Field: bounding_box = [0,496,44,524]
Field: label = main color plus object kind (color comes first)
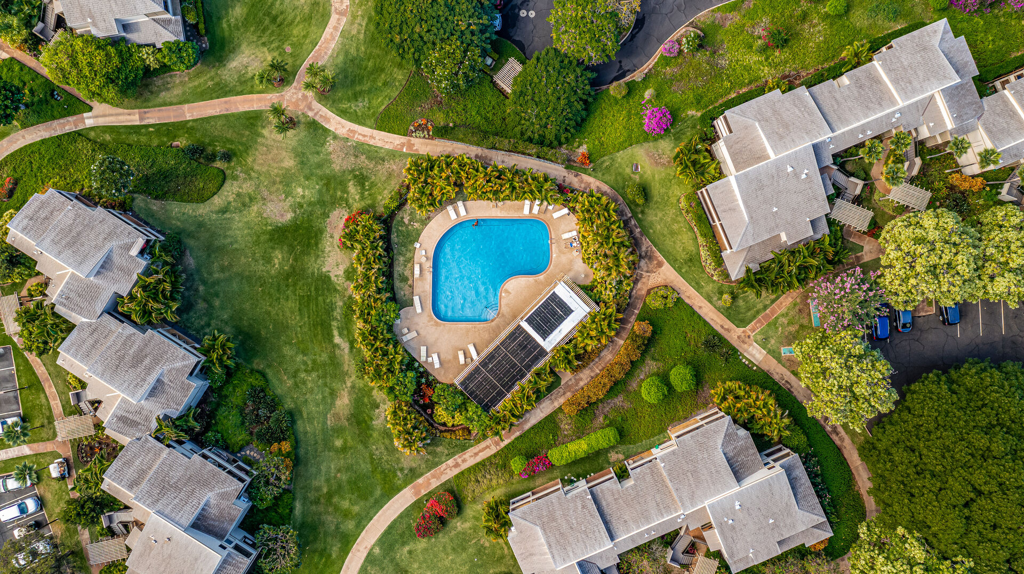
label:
white car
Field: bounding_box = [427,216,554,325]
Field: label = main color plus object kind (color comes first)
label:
blue swimming pool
